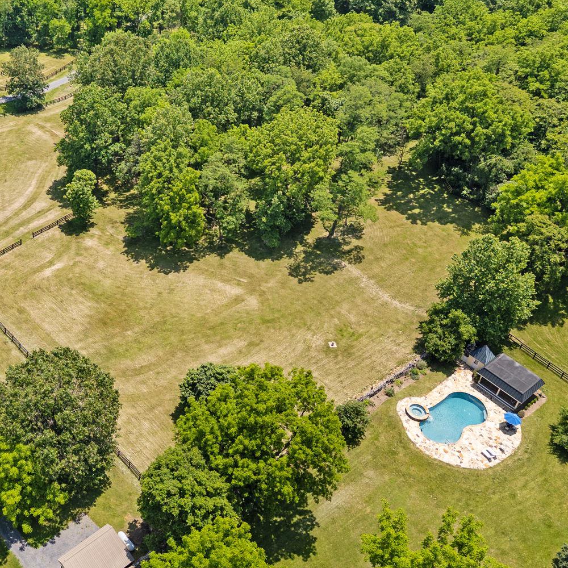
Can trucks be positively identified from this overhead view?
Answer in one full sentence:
No, I can't see a single truck in this photo.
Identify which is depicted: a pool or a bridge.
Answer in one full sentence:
Of the two, only a pool appears.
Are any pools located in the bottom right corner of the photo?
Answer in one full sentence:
Yes, the scene does show a pool in the bottom right corner of the photo.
